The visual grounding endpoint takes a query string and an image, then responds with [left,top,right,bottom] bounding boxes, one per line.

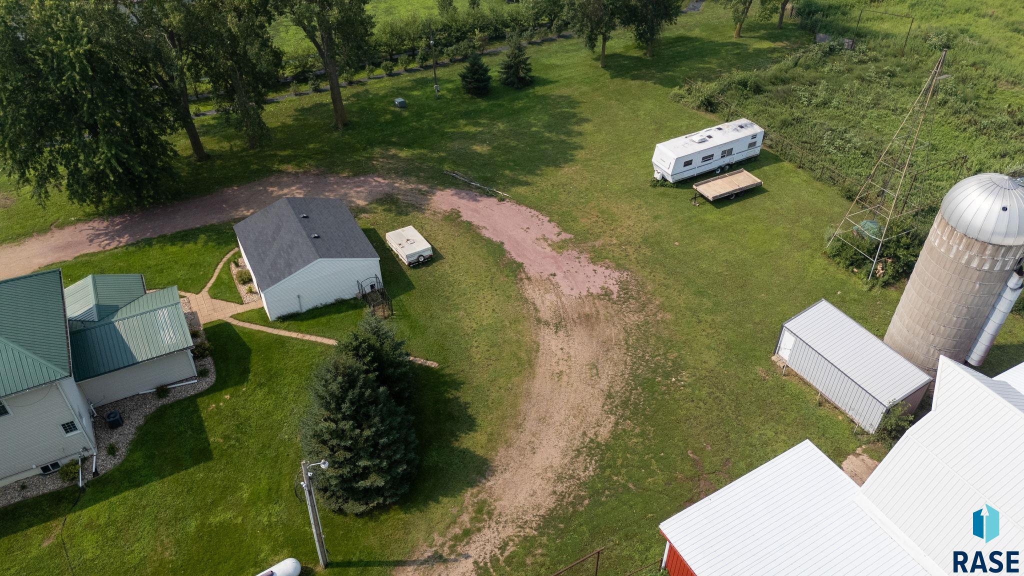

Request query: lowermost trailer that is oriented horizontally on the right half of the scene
[686,168,763,207]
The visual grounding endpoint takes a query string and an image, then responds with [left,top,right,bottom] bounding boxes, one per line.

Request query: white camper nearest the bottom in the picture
[387,227,433,268]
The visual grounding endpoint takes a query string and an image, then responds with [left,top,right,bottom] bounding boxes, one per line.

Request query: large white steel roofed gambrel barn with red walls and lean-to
[658,354,1024,576]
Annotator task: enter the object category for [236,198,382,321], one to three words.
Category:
building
